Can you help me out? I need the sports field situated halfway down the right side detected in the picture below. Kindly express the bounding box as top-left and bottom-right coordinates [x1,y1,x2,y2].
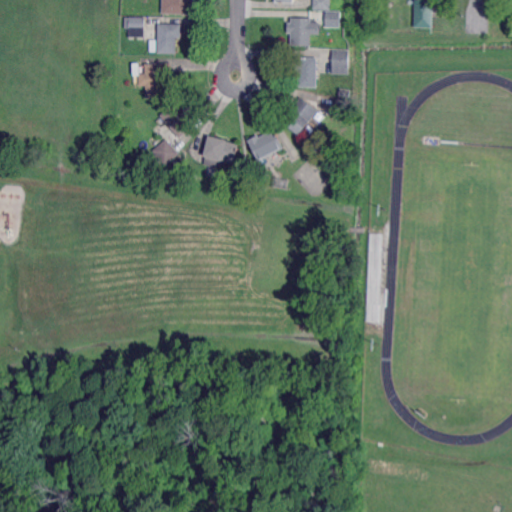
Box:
[392,82,512,434]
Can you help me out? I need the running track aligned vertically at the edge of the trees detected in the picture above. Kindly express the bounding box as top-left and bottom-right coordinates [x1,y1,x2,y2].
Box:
[381,72,512,446]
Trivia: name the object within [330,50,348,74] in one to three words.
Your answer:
building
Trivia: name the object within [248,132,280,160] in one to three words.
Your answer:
house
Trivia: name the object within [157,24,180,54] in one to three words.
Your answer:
house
